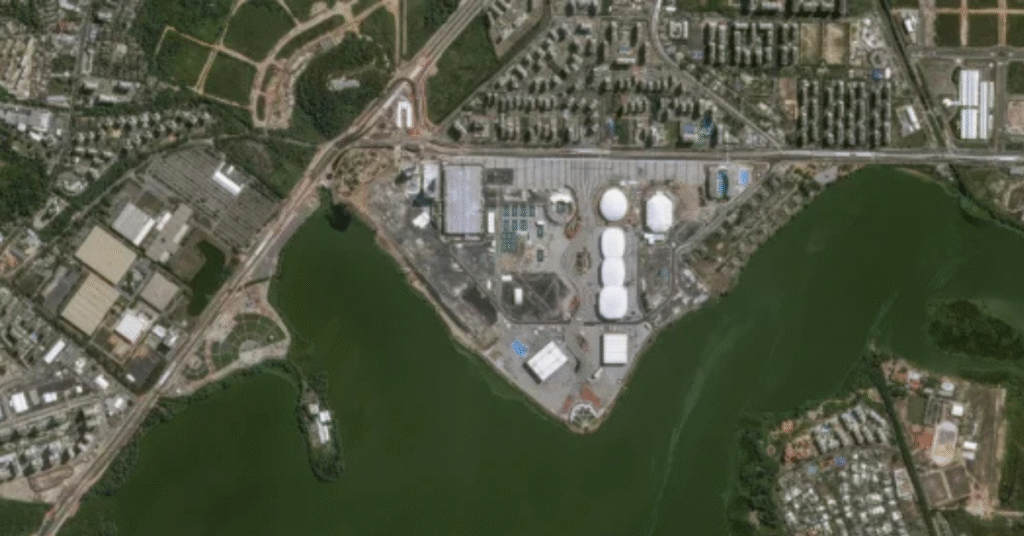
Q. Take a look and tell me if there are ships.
No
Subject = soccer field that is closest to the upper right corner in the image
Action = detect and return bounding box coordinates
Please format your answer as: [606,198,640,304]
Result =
[826,24,846,64]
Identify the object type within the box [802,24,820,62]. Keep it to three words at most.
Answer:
soccer field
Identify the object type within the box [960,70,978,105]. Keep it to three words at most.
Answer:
building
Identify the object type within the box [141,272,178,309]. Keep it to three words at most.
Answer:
building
